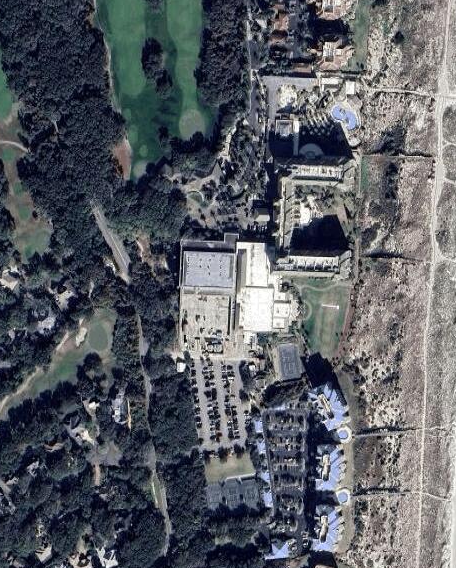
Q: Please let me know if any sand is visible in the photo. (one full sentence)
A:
Yes, sand can be seen from above here.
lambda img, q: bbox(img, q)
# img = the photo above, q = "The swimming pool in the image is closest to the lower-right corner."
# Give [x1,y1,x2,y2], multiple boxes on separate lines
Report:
[337,489,351,505]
